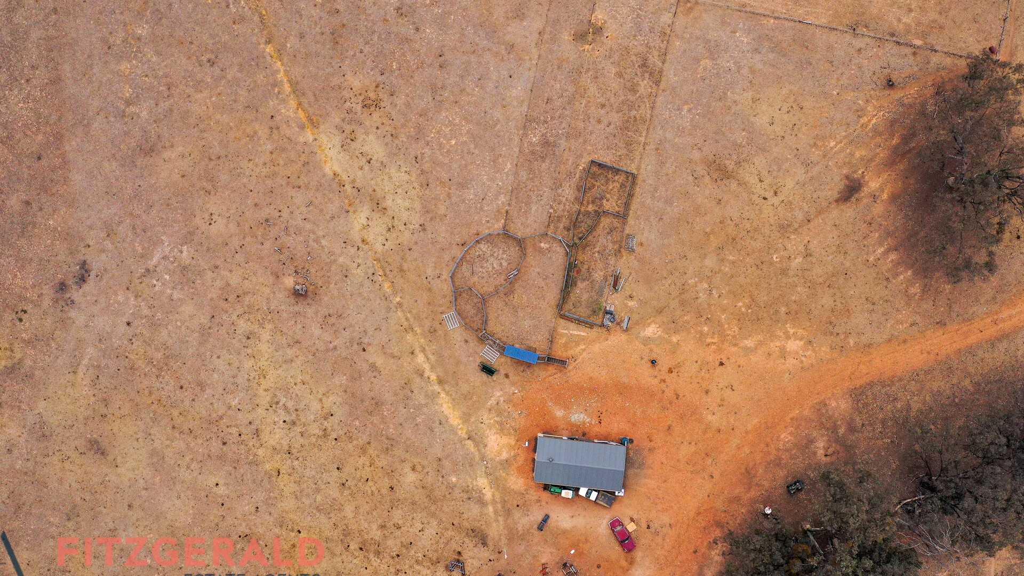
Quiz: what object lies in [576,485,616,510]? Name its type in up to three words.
truck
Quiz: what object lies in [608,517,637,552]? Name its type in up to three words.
car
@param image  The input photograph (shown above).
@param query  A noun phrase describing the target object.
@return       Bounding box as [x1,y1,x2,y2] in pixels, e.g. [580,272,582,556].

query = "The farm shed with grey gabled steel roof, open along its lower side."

[533,435,627,493]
